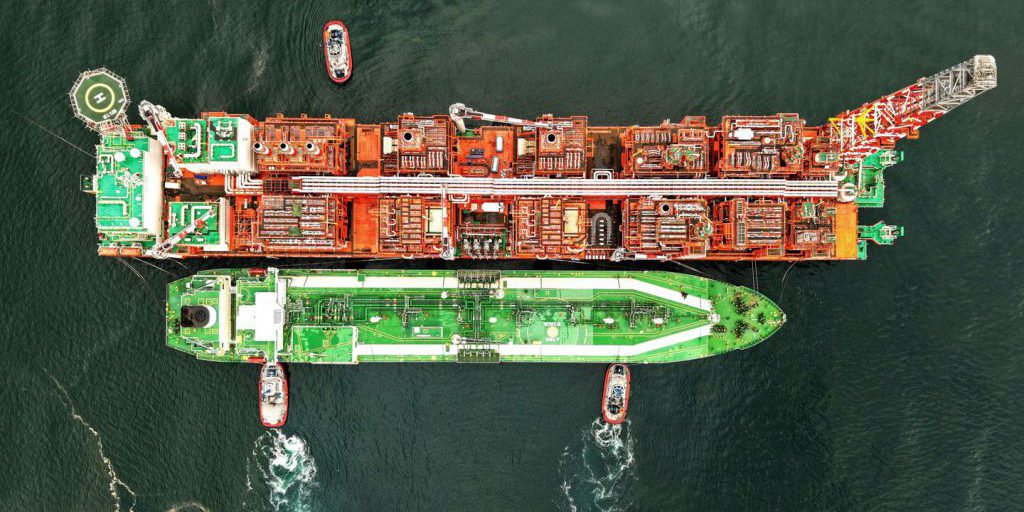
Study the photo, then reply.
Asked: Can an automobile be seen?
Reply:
No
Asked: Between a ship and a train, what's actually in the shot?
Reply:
ship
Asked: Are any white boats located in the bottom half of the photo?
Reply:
Yes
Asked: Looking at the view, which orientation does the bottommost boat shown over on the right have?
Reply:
from top to bottom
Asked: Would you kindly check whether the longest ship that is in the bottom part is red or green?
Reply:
green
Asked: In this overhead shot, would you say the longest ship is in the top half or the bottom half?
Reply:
top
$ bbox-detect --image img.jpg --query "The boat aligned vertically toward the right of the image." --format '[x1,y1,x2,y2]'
[601,363,631,425]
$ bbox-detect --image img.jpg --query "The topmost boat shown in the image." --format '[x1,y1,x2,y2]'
[321,19,356,85]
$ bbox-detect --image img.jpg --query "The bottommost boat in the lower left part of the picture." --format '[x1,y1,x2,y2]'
[257,362,290,429]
